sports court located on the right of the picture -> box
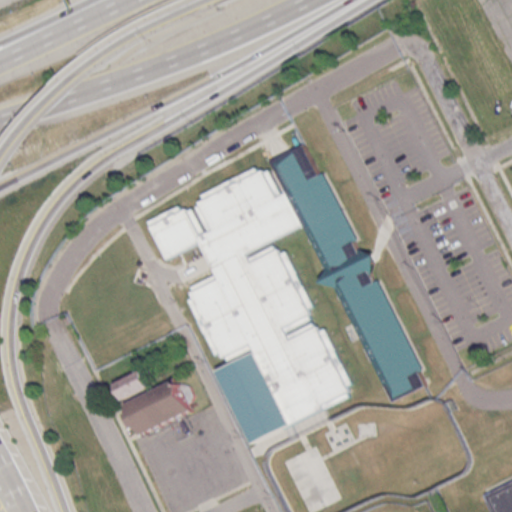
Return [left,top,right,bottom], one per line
[286,448,342,512]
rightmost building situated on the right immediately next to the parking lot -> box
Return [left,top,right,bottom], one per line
[271,146,428,402]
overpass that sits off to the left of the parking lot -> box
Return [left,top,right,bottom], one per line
[0,0,236,182]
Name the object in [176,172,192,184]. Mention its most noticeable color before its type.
white vehicle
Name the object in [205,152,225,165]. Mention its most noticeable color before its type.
white vehicle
